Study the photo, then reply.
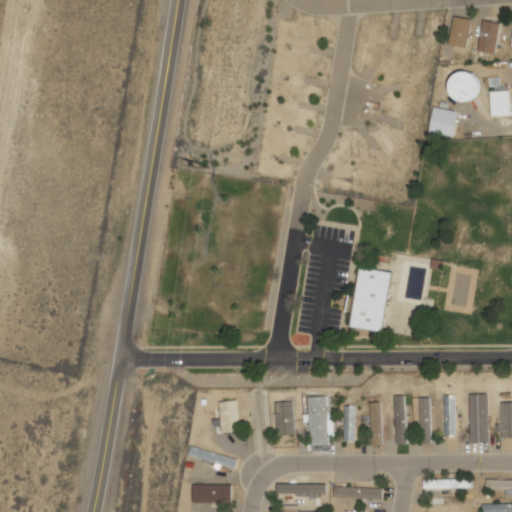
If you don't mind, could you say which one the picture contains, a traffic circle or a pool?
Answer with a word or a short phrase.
pool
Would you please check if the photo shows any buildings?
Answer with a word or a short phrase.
Yes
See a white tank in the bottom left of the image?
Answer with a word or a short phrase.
No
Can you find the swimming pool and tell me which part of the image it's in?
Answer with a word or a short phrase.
right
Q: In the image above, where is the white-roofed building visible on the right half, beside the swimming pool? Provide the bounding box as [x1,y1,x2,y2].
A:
[349,268,392,330]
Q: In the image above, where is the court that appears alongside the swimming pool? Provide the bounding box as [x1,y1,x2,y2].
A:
[445,266,479,314]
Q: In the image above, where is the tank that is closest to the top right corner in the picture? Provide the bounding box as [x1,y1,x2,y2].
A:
[447,69,482,104]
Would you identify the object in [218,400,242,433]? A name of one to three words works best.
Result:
house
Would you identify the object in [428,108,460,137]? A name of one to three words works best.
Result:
building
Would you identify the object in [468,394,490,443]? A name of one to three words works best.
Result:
house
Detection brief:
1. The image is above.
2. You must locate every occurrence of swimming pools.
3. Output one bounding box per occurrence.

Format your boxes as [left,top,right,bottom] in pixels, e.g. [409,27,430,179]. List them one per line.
[398,262,431,304]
